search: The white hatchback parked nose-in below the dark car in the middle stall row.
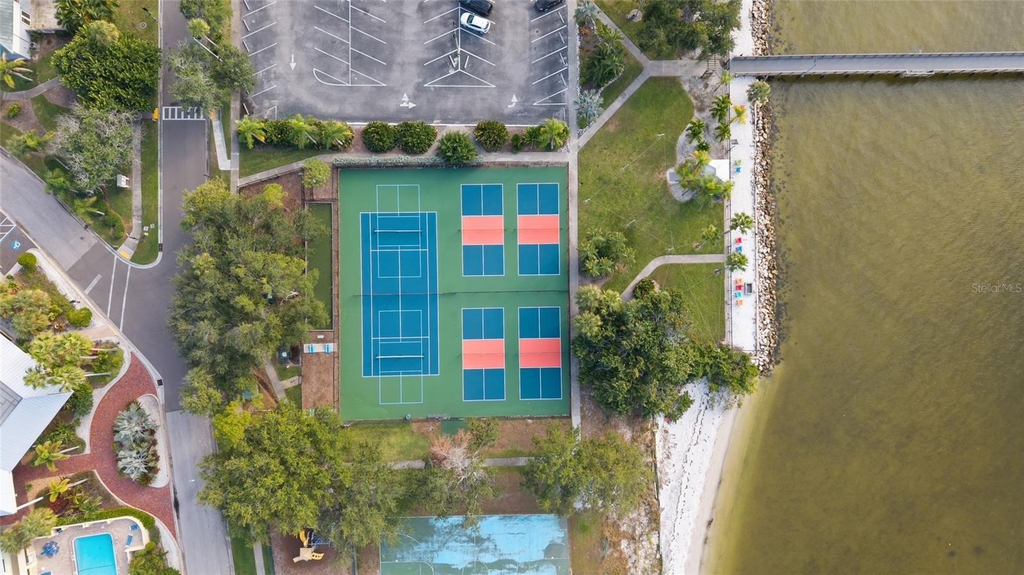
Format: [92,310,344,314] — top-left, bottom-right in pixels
[460,12,492,34]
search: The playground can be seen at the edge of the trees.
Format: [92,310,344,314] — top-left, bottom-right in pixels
[292,531,330,565]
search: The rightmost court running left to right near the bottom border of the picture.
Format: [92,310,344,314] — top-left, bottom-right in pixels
[380,514,569,575]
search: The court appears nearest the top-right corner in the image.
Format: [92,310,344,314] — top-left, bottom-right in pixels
[514,183,562,275]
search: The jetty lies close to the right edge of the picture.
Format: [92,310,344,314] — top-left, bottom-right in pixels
[728,51,1024,79]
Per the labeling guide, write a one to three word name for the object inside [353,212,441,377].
tennis court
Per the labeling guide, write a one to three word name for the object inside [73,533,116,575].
swimming pool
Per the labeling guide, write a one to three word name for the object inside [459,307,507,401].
sports court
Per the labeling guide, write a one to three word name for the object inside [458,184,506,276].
sports court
